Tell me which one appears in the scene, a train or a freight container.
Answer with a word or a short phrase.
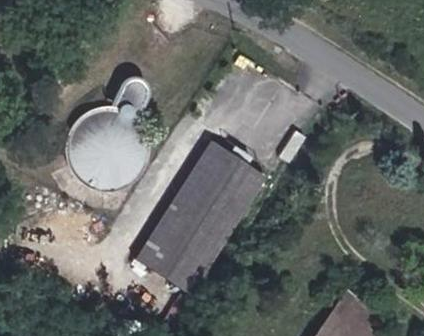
freight container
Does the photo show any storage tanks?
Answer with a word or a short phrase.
Yes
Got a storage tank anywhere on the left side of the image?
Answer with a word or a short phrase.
Yes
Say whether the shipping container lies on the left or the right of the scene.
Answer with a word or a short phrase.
right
